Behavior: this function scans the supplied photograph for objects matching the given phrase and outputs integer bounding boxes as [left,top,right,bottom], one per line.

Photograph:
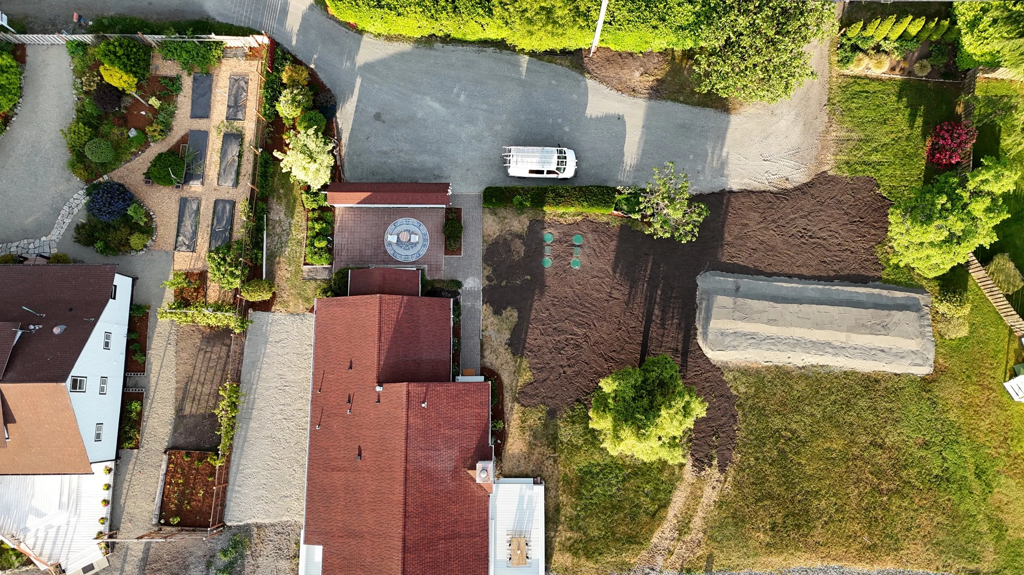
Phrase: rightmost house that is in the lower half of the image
[302,269,496,575]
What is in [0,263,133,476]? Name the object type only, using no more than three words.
house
